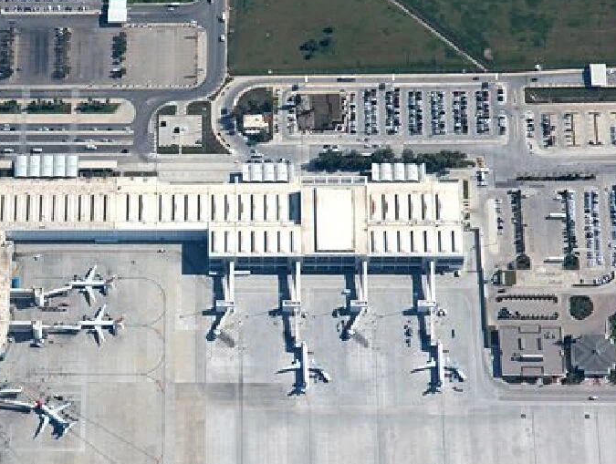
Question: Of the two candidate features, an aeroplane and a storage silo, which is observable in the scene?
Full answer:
This aerial view contains an aeroplane.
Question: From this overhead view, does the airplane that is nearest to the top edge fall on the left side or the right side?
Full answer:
The airplane that is nearest to the top edge appears in the left half of the scene.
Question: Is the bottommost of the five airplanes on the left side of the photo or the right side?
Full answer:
The bottommost of the five airplanes sits on the left side.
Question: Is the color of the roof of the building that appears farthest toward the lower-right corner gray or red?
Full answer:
The color of the roof of the building that appears farthest toward the lower-right corner is gray.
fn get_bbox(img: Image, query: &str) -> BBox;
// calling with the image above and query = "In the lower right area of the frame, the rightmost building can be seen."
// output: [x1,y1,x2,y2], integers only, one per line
[570,337,616,376]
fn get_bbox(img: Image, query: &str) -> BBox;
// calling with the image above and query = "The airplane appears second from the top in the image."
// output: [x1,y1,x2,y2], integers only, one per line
[84,306,123,345]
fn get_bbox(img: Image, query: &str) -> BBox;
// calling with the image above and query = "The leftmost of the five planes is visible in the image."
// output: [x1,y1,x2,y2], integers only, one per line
[37,393,76,432]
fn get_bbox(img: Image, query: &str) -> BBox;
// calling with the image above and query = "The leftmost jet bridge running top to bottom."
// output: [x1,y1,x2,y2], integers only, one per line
[214,261,236,339]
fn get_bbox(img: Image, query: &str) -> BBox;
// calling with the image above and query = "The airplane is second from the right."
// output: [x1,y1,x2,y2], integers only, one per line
[277,343,331,390]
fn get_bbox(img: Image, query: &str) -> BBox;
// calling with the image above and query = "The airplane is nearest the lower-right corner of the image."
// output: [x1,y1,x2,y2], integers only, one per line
[414,343,467,389]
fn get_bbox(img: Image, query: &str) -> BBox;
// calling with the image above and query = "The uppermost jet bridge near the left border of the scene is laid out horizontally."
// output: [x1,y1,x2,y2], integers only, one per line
[13,283,75,309]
